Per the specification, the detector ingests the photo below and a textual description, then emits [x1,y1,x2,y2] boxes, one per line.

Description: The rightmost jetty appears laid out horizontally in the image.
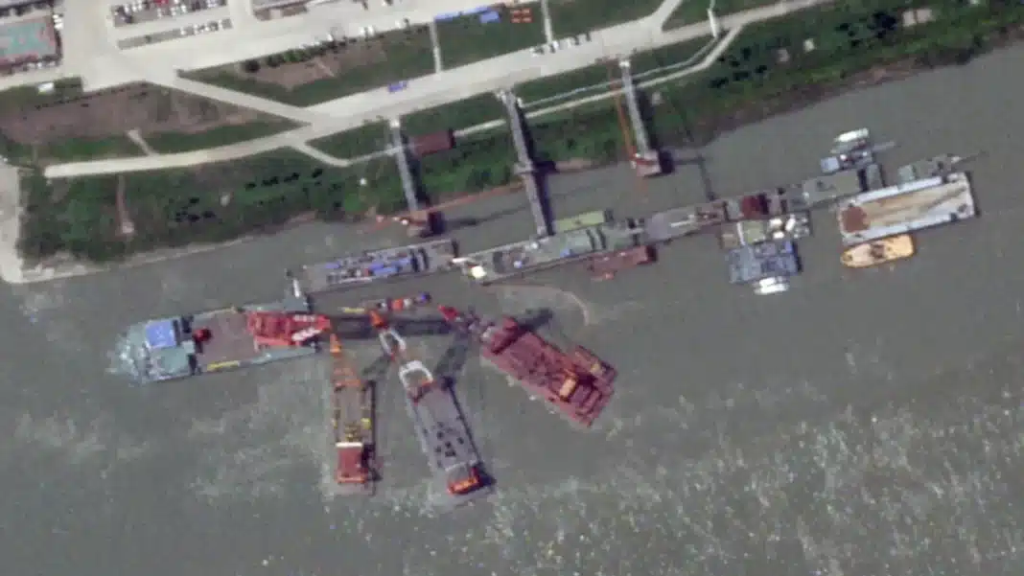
[804,170,861,206]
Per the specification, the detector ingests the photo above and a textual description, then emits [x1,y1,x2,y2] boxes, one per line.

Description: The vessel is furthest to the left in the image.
[114,296,333,382]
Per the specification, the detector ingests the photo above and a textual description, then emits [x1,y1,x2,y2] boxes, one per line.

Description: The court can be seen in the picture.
[0,15,58,62]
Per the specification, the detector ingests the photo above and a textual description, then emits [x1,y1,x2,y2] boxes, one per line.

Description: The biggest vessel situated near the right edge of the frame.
[838,172,975,245]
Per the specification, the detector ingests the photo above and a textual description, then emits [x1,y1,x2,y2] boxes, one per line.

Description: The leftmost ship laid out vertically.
[331,336,373,490]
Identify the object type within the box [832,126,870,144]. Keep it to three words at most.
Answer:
boat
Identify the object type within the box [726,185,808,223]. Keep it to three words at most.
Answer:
pier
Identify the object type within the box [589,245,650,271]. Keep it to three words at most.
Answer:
ship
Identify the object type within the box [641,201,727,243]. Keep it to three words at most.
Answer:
pier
